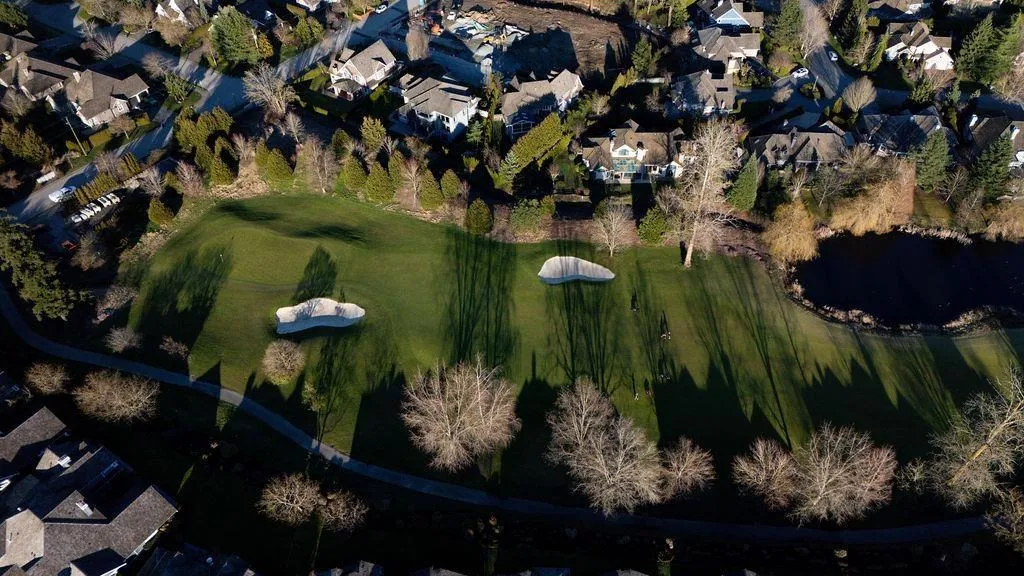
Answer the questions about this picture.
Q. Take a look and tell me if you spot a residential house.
Yes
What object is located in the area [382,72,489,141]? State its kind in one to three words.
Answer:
house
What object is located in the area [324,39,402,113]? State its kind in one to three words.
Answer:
house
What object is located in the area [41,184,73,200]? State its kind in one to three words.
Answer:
vehicle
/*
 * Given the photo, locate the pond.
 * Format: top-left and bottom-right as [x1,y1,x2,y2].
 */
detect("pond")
[798,233,1024,329]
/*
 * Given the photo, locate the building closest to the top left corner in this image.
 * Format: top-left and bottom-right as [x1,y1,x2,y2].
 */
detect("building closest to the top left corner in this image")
[0,28,61,77]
